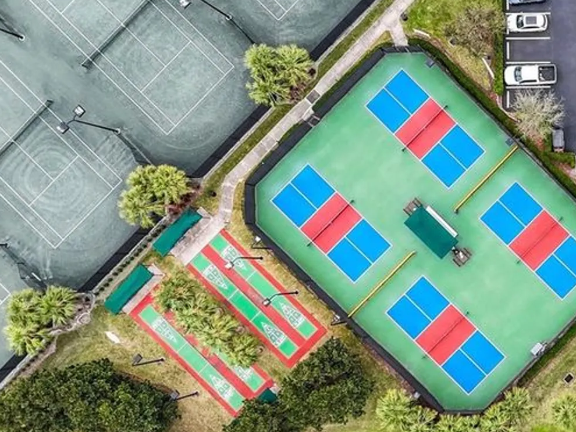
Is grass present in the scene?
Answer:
Yes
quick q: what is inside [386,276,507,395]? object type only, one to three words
sports court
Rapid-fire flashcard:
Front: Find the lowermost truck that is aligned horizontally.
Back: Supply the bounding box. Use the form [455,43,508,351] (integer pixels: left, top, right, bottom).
[504,63,557,86]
